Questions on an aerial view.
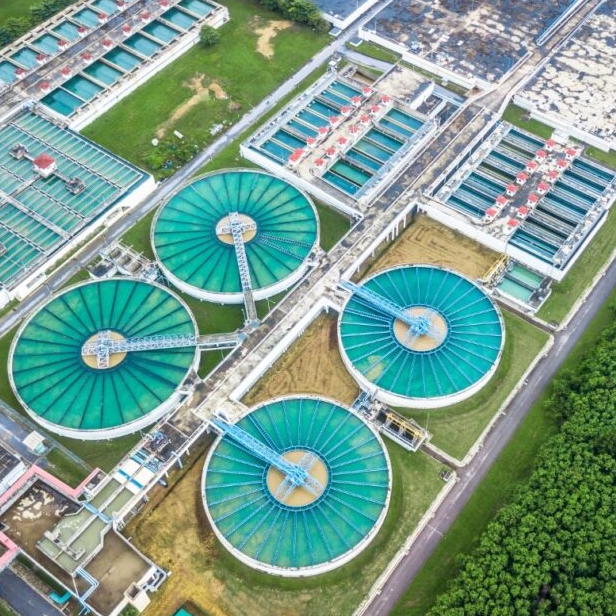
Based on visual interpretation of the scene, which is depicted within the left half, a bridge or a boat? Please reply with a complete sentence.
The one visible within the left half is a bridge.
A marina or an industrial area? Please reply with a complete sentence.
The picture captures an industrial area.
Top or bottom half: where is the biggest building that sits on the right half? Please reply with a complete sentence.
You can find the biggest building that sits on the right half in the top half.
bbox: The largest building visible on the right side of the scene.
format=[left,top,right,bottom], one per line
[373,65,434,109]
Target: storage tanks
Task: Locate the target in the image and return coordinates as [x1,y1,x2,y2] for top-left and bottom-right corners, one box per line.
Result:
[0,106,156,316]
[337,261,506,408]
[201,394,392,575]
[150,167,320,324]
[7,274,242,439]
